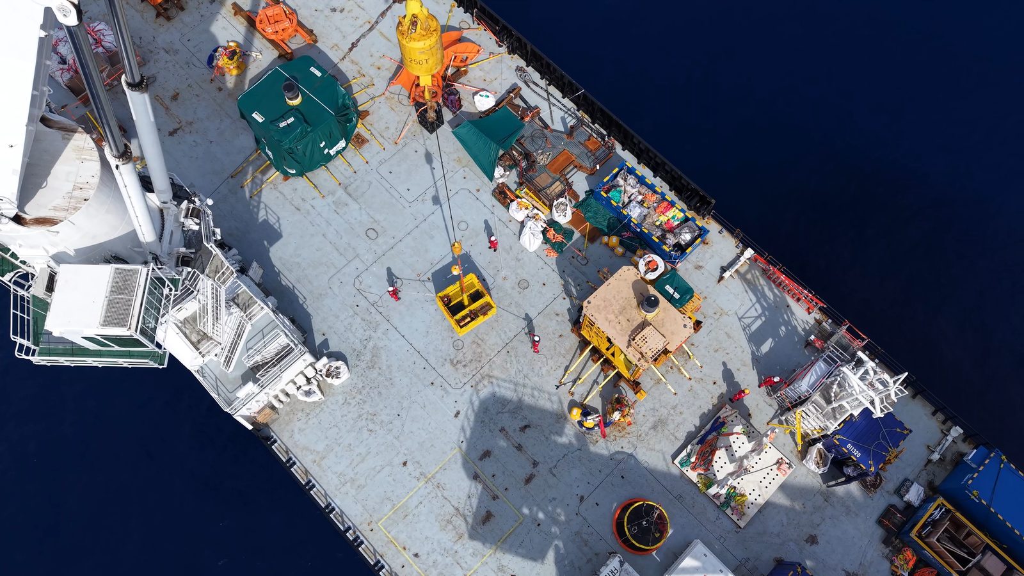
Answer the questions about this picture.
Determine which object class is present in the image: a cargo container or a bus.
cargo container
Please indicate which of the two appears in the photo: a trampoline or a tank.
tank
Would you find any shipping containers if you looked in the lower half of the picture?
Yes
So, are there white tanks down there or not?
No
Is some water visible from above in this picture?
Yes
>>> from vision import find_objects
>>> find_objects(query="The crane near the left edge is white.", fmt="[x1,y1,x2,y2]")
[0,0,199,370]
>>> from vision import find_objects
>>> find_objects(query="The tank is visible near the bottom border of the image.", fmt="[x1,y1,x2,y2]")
[612,494,674,559]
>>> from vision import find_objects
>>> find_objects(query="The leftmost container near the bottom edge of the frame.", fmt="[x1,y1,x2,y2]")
[659,540,733,576]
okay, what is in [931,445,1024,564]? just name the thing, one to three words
shipping container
